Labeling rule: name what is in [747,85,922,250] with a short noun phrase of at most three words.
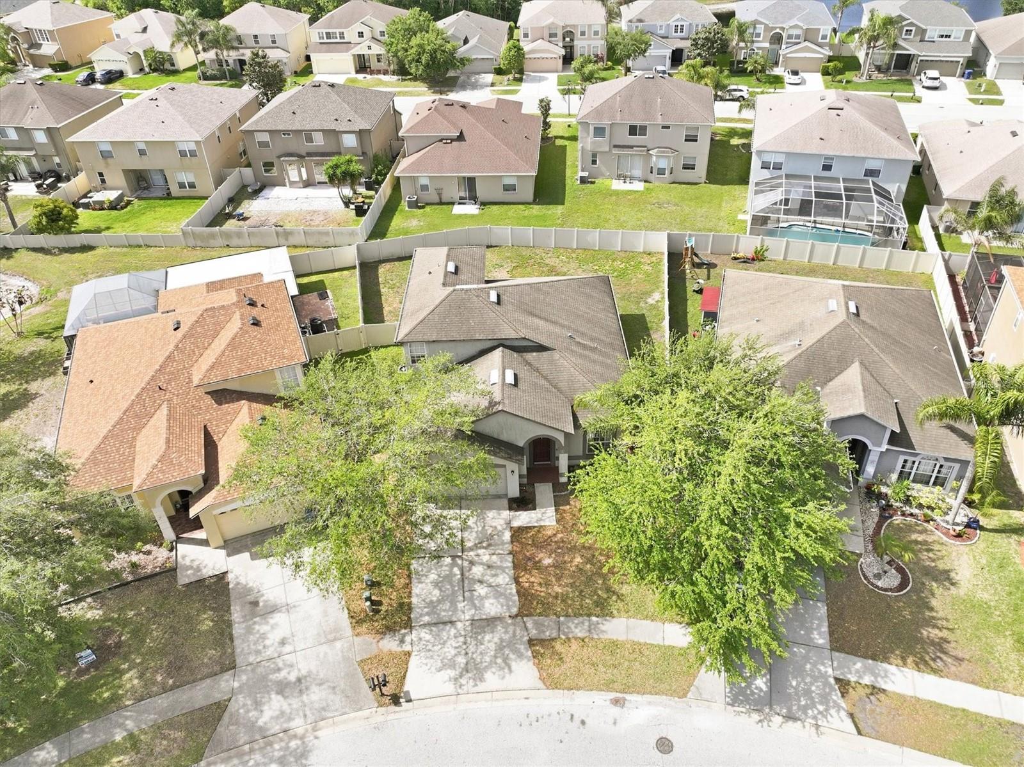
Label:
building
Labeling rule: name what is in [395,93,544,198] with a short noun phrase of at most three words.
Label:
house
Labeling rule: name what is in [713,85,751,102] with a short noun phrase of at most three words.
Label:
car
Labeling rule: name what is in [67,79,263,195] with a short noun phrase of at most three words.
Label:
house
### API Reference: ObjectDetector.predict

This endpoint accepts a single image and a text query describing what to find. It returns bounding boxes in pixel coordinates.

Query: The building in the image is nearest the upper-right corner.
[974,11,1024,76]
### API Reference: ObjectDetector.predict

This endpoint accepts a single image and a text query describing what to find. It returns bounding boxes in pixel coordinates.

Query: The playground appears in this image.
[655,235,721,273]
